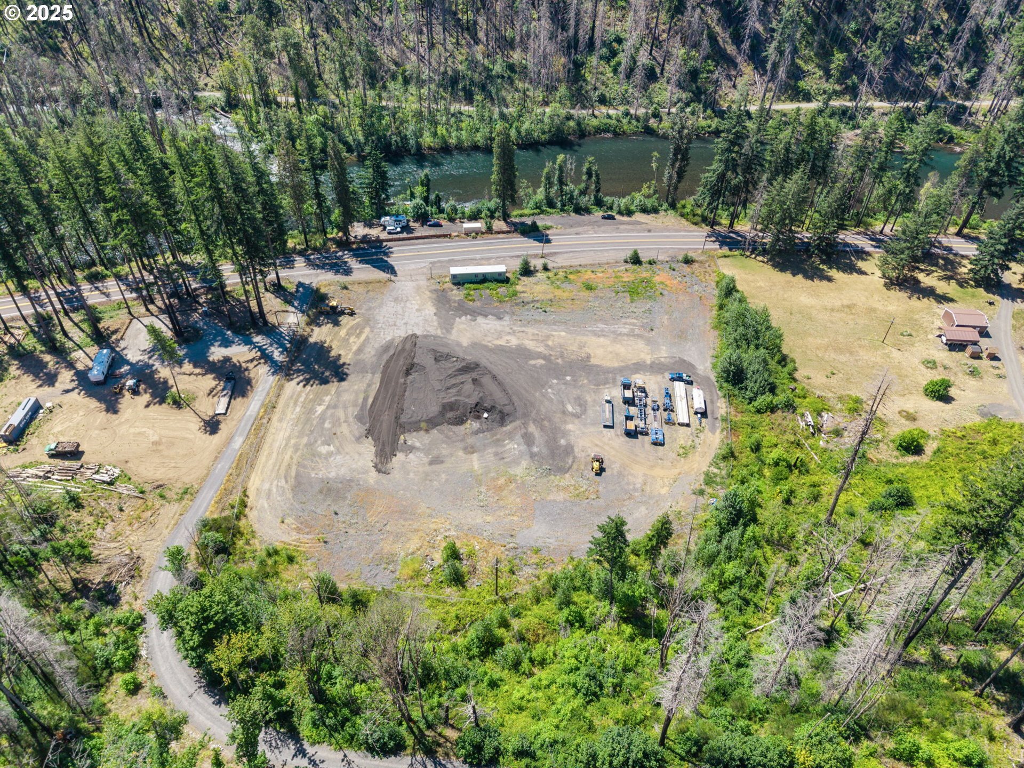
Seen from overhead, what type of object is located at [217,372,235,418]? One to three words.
vehicle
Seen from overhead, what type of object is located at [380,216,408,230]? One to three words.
camper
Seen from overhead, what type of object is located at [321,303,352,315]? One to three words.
vehicle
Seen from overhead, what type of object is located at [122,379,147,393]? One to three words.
work vehicle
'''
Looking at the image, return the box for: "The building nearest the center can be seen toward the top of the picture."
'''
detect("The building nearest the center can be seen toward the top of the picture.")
[450,269,508,290]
